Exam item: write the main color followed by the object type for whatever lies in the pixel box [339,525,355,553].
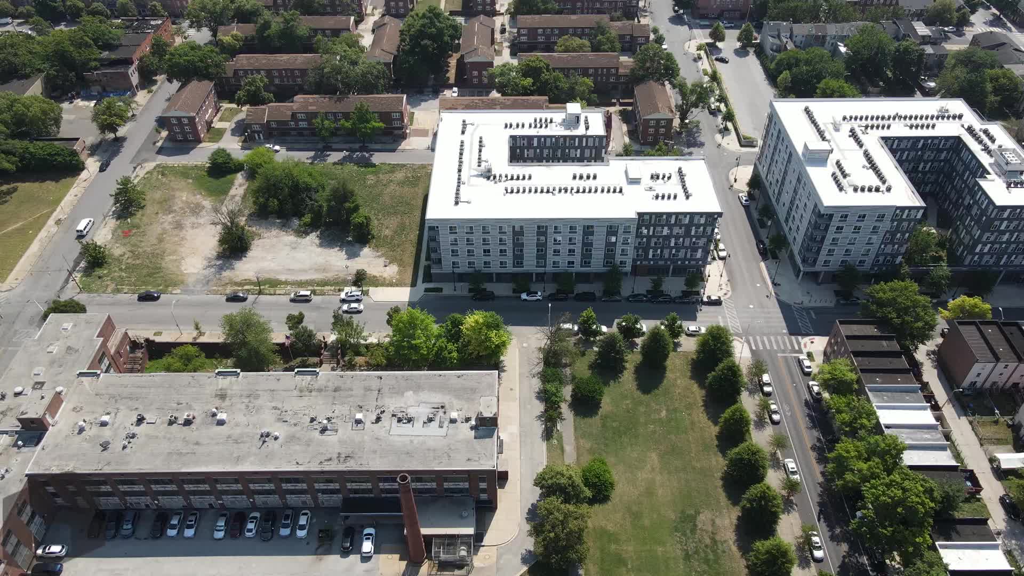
black car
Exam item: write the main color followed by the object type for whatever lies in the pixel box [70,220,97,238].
white vehicle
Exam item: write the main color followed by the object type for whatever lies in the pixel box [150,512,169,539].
black car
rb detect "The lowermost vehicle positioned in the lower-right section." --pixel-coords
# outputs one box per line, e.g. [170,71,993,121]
[806,533,826,562]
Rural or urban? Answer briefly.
urban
